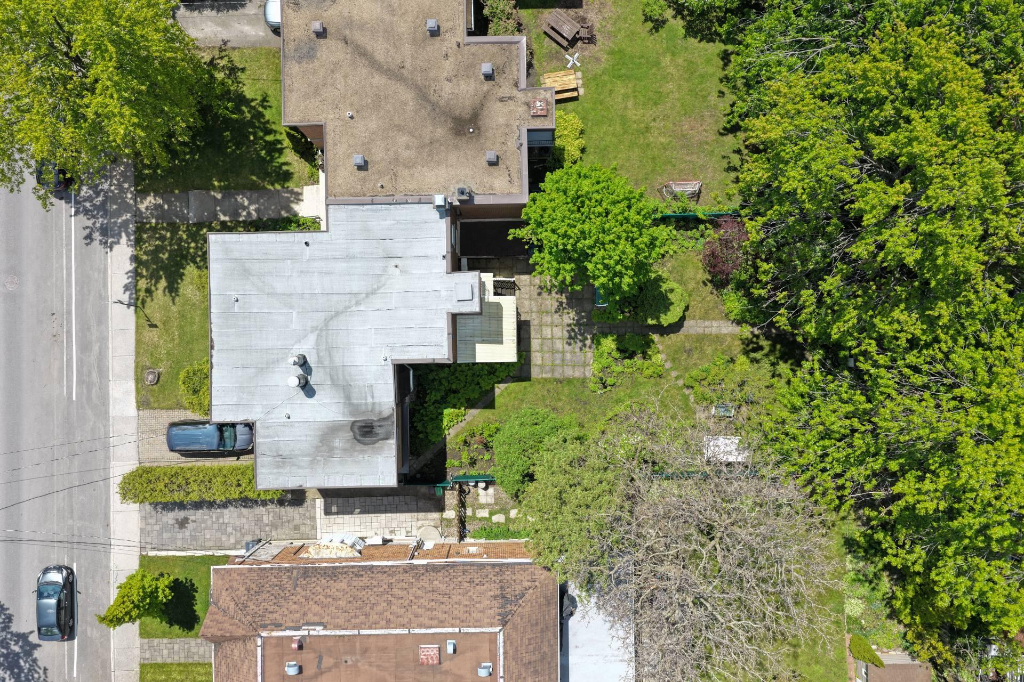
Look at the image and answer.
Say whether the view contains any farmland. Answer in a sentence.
No, no farmland is visible.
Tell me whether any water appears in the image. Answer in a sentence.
No, the picture contains no water.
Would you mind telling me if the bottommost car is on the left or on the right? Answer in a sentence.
You can find the bottommost car on the left side of the picture.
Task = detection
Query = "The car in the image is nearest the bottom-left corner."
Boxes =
[32,562,78,642]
